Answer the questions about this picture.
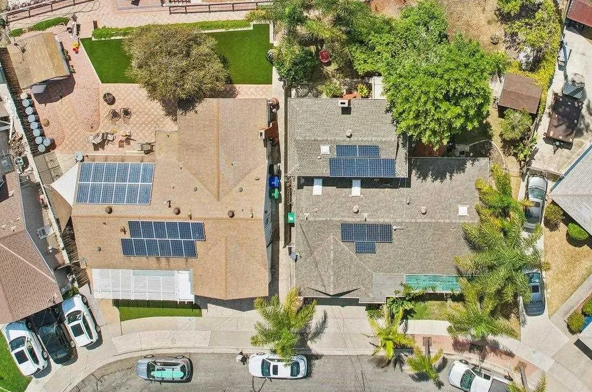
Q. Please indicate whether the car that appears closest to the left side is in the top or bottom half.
bottom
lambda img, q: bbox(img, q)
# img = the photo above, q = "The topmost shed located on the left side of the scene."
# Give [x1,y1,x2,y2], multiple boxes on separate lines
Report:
[0,33,81,90]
